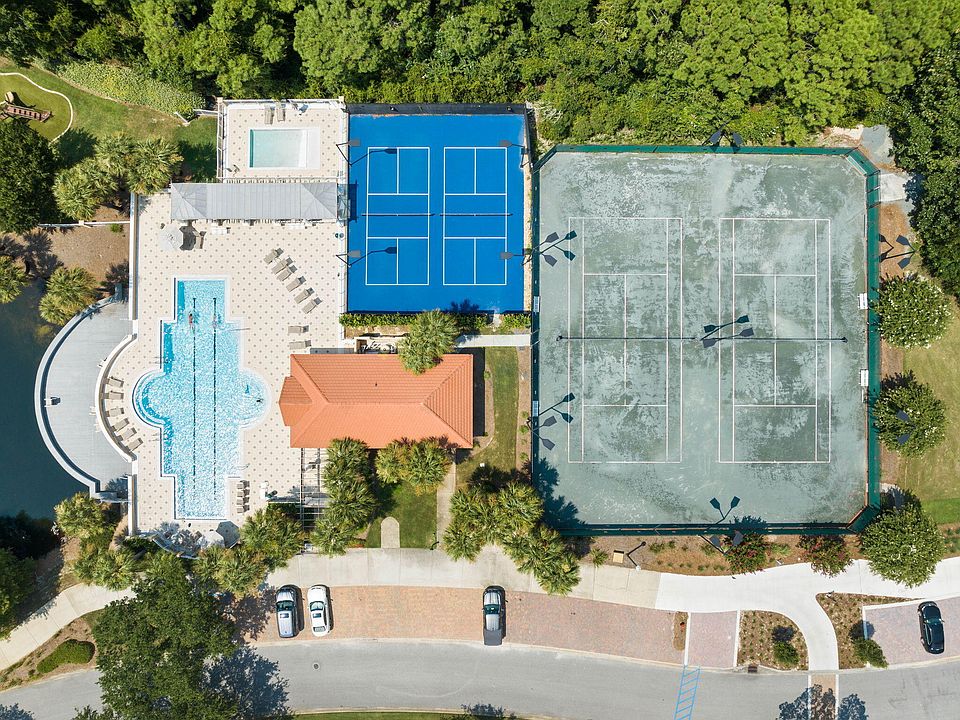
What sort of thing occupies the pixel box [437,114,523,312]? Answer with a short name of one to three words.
sports court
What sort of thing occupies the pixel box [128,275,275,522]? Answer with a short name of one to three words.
swimming pool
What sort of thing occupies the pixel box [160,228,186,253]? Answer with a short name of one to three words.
umbrella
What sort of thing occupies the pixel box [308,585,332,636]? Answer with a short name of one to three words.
car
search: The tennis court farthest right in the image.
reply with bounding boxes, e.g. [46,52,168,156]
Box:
[701,155,866,528]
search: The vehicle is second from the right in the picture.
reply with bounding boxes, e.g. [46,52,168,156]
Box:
[482,586,505,646]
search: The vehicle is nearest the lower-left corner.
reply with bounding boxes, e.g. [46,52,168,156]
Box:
[276,586,302,638]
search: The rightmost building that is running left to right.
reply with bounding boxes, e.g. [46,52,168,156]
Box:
[279,353,473,449]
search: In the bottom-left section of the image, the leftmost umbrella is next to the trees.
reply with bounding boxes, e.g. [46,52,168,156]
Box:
[205,526,226,547]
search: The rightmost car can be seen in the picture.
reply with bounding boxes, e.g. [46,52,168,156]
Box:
[915,602,945,653]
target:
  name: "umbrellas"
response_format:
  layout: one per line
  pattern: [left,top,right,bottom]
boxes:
[205,526,226,547]
[160,228,186,253]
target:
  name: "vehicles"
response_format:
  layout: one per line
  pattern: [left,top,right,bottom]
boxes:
[915,602,945,653]
[276,586,302,638]
[308,585,332,636]
[482,586,505,646]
